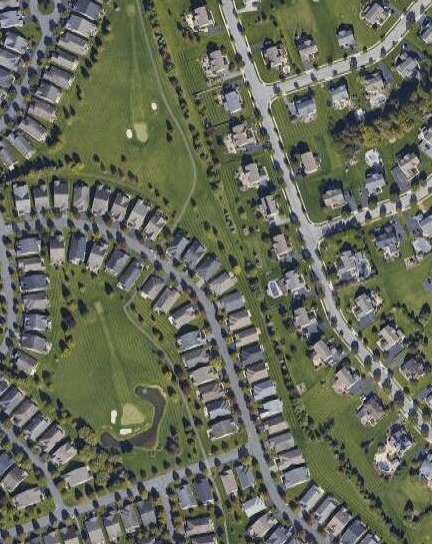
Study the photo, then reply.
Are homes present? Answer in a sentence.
Yes, looking at the shot, I can spot a home.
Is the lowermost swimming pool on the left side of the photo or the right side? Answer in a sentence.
The lowermost swimming pool is on the right side of the image.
